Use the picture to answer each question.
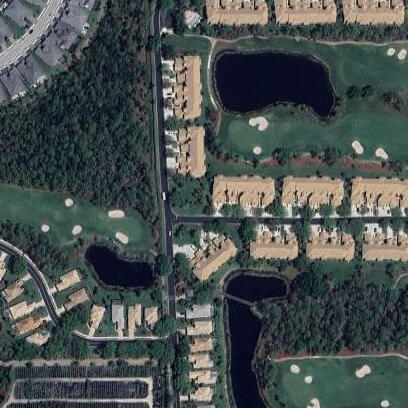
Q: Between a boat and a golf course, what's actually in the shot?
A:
golf course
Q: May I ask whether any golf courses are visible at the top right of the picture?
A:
Yes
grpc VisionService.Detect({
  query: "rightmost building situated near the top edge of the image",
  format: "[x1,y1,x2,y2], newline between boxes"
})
[344,0,405,27]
